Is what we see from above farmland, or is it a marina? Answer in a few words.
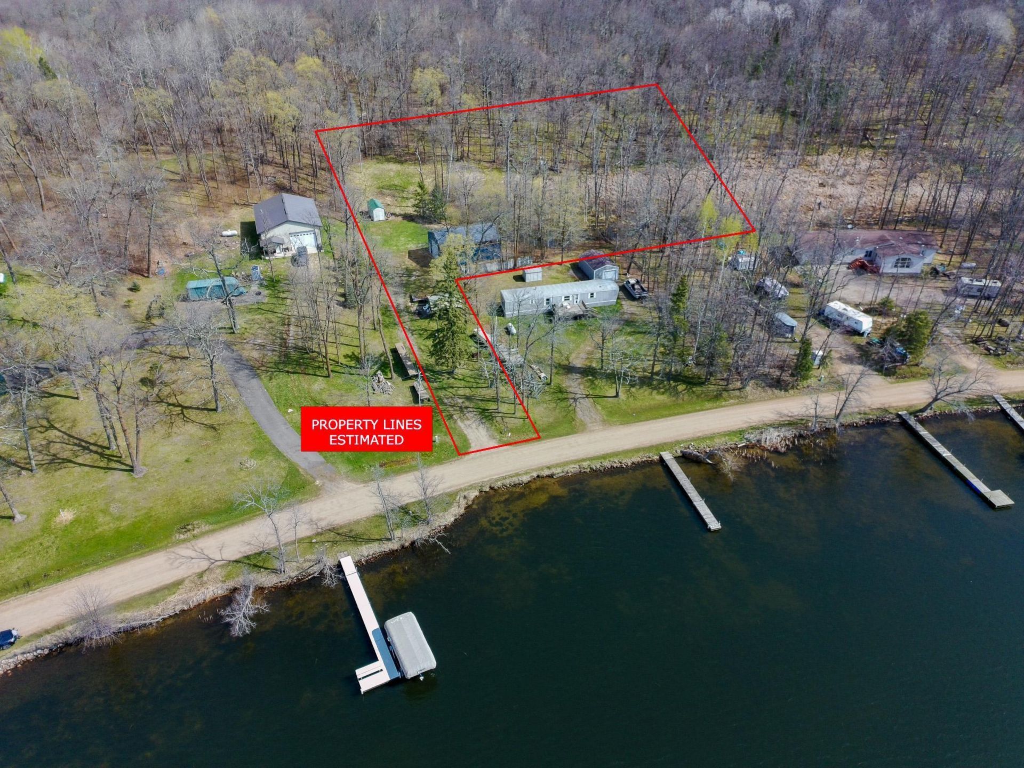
marina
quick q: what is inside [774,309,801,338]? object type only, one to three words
shed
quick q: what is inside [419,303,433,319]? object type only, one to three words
vehicle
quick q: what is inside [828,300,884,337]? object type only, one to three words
trailer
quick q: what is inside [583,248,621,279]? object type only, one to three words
building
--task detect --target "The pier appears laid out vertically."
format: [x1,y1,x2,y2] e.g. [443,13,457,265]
[341,558,399,695]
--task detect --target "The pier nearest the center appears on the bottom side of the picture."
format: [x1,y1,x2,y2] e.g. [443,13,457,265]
[660,452,720,530]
